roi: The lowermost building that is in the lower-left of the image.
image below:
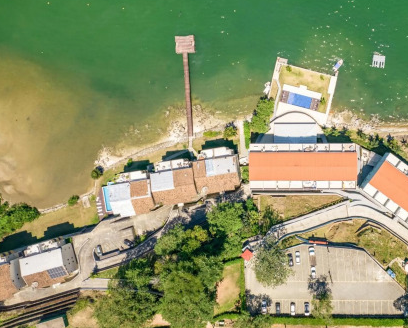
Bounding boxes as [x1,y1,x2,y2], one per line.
[36,310,69,328]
